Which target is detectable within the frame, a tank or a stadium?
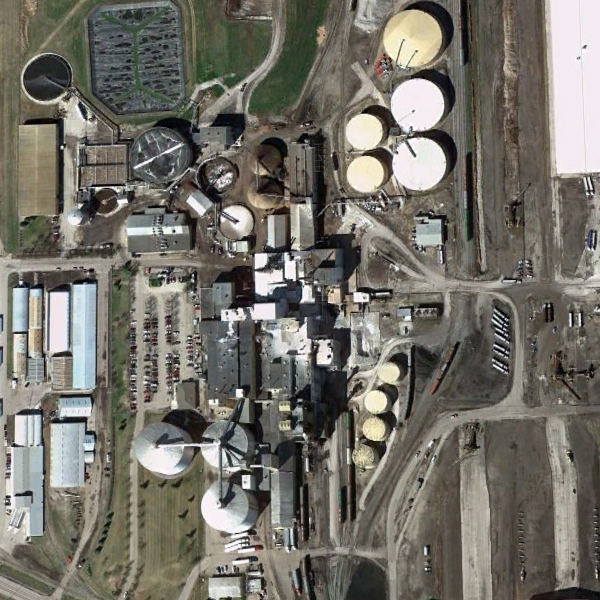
tank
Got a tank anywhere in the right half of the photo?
Yes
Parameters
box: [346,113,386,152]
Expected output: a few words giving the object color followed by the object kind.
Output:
white storage tank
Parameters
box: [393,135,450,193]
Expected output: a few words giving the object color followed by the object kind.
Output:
white storage tank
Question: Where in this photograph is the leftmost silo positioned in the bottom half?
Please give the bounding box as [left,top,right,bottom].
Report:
[135,421,193,475]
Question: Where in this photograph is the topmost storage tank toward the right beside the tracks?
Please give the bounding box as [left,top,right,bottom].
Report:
[384,8,445,69]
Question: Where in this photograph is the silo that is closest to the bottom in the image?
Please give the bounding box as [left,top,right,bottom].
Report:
[201,480,257,533]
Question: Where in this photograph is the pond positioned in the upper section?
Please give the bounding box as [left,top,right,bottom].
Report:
[87,0,188,115]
